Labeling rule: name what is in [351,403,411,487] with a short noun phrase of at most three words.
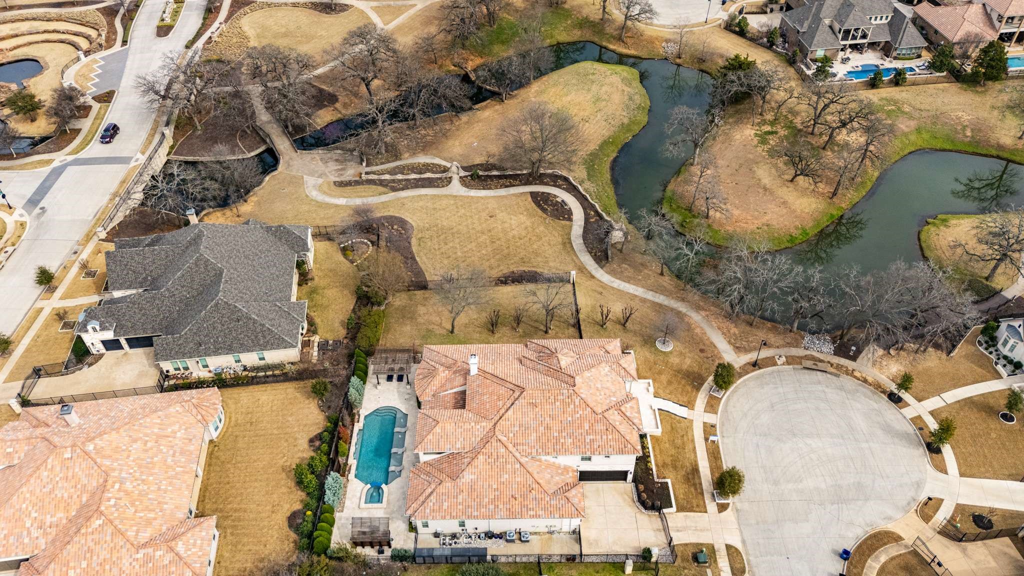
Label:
swimming pool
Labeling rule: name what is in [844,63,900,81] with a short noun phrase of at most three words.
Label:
swimming pool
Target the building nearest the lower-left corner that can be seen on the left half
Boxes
[0,385,225,576]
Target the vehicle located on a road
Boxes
[100,123,117,141]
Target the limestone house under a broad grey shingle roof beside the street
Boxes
[68,204,313,375]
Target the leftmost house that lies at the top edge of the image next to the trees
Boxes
[764,0,929,64]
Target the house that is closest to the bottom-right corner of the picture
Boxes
[994,294,1024,361]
